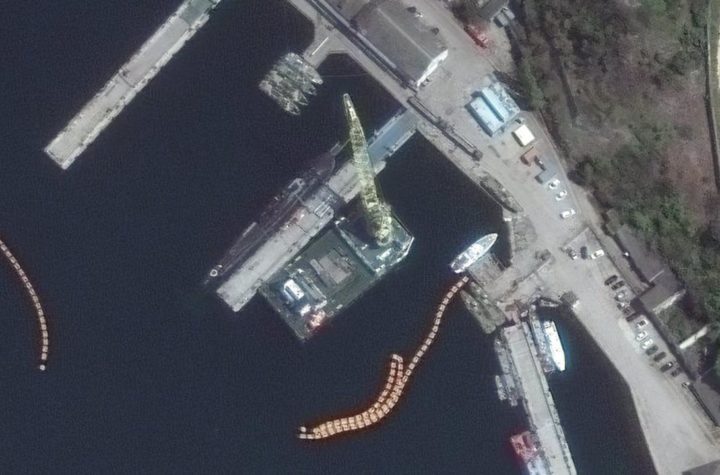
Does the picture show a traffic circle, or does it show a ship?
ship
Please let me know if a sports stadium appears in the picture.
No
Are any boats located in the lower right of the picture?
Yes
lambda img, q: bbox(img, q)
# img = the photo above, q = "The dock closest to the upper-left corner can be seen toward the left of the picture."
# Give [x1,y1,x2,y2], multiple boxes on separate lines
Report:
[45,0,221,169]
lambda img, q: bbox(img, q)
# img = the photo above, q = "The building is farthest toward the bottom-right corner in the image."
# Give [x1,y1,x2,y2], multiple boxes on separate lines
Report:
[638,269,686,309]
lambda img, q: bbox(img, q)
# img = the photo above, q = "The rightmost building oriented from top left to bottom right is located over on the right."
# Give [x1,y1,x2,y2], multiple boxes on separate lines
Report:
[615,222,672,286]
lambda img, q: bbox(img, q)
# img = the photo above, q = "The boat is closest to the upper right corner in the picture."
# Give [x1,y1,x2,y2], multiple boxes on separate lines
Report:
[477,173,524,212]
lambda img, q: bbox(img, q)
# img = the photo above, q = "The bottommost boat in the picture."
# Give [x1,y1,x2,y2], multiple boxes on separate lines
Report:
[511,431,550,475]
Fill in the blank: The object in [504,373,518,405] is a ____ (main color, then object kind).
gray vessel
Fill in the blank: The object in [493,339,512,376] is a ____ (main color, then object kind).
gray boat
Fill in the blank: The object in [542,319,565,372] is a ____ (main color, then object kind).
white vessel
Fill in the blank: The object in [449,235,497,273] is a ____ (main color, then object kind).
white ship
